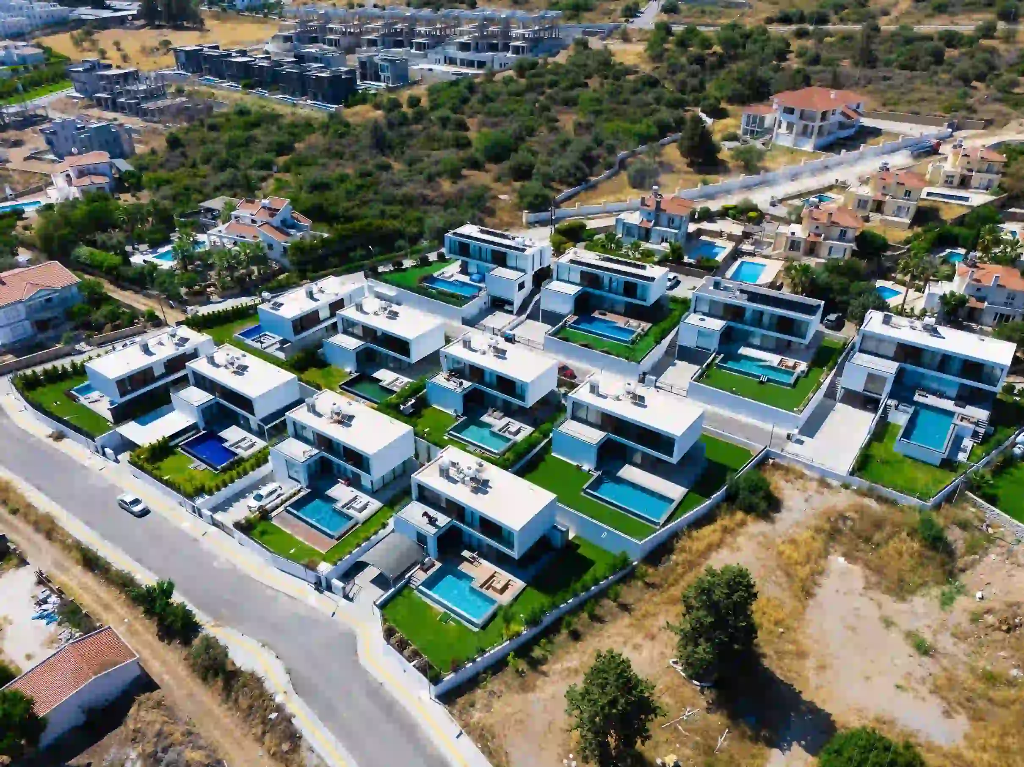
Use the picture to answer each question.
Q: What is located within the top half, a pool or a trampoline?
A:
pool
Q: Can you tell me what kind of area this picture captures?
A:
residential area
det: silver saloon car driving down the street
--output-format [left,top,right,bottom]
[111,489,151,515]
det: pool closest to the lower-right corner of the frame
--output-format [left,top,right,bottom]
[890,395,990,471]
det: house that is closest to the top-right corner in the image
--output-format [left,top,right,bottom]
[923,143,1008,195]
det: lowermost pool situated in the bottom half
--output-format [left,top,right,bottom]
[410,555,526,635]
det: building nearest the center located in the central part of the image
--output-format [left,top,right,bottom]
[424,332,557,417]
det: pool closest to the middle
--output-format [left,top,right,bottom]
[441,416,534,461]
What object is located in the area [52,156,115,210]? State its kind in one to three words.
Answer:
house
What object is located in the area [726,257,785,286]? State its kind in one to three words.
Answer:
swimming pool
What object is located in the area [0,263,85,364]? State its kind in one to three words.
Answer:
house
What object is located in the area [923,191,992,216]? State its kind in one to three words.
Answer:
swimming pool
